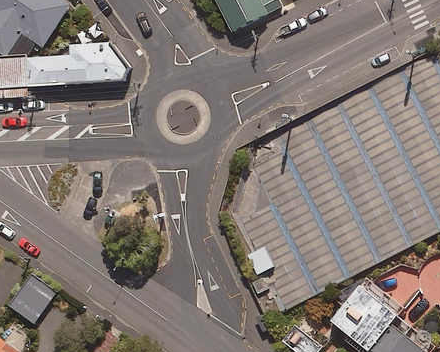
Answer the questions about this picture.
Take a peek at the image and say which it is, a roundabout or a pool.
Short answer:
roundabout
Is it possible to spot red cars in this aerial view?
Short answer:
Yes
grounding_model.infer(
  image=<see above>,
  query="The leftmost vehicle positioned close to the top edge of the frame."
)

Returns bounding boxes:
[93,0,112,16]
